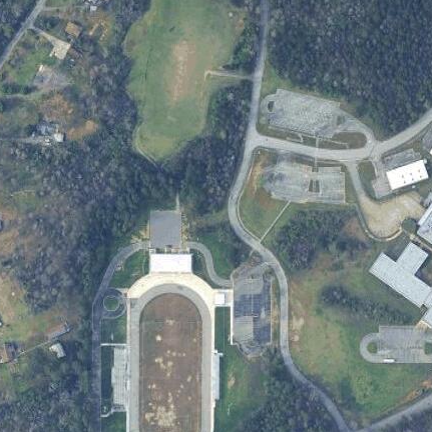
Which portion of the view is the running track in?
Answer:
bottom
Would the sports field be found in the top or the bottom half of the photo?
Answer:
bottom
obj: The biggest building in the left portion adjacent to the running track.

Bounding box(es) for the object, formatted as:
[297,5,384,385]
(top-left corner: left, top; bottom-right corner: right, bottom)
[150,254,192,274]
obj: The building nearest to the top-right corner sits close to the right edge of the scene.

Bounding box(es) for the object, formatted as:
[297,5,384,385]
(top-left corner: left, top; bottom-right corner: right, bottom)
[385,160,429,190]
